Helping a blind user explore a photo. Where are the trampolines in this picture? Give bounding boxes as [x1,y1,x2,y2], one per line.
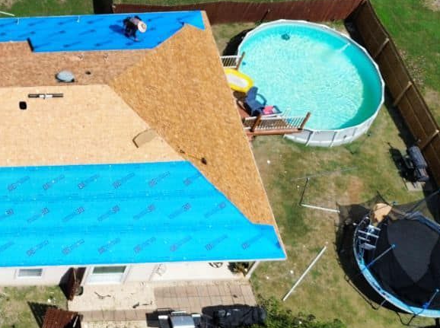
[307,190,440,328]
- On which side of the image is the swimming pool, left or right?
right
